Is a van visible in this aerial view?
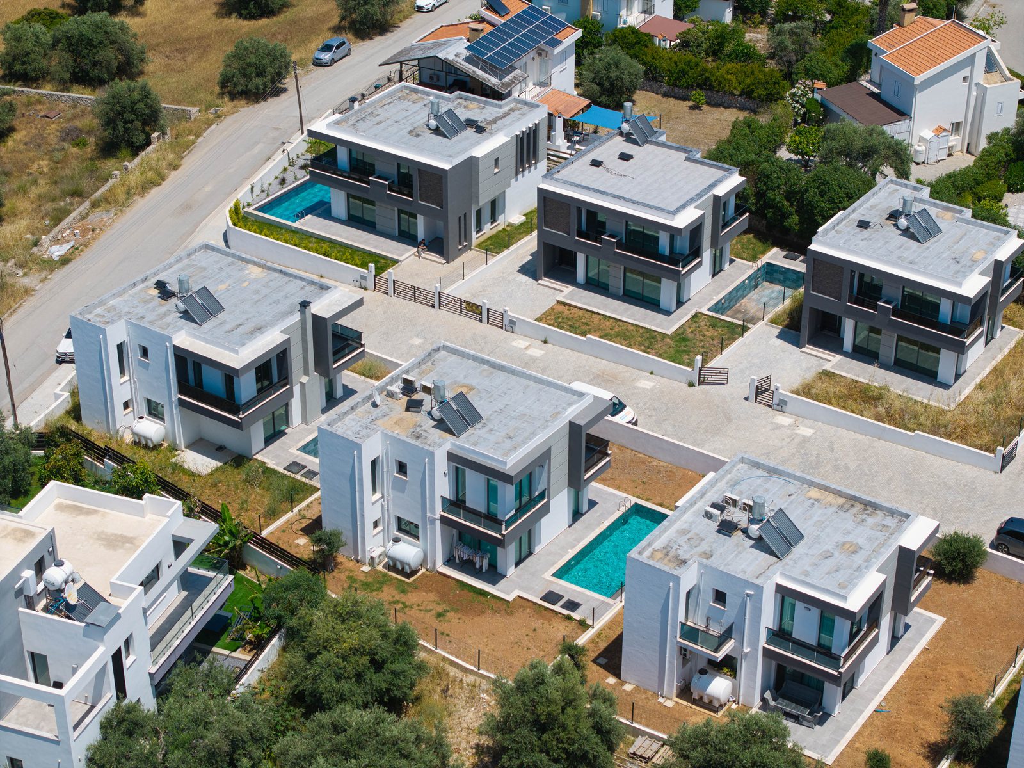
Yes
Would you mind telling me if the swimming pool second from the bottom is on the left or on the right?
left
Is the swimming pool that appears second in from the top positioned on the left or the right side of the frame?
right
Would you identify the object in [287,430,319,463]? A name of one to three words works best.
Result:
swimming pool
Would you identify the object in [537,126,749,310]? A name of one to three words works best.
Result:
house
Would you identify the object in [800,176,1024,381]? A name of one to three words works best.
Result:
house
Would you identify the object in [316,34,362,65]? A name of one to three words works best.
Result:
car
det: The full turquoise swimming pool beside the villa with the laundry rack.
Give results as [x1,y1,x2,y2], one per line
[542,496,673,604]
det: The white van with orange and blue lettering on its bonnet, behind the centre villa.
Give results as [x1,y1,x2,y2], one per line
[565,376,639,429]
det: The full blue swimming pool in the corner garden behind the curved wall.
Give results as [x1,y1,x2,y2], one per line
[252,177,333,225]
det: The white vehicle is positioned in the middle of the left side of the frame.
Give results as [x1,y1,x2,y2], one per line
[55,331,73,359]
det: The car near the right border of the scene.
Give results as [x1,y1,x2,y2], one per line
[992,516,1024,558]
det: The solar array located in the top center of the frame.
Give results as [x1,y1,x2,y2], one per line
[465,5,585,104]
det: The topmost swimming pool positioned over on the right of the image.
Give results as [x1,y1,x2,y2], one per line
[698,254,805,325]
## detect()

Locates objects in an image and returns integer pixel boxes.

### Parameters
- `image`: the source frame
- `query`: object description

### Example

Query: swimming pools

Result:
[287,430,319,463]
[542,496,673,604]
[252,177,333,225]
[698,254,805,325]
